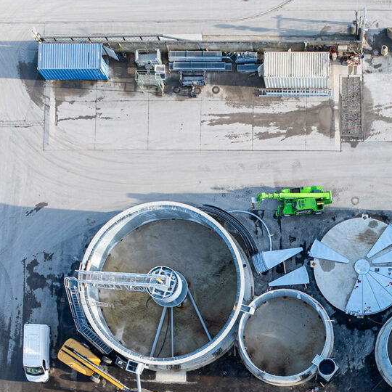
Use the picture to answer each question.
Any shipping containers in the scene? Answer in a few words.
Yes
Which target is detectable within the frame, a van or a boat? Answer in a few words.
van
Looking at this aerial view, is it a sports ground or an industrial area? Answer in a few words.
industrial area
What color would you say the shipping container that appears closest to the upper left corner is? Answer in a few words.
blue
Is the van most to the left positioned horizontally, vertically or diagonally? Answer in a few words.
vertically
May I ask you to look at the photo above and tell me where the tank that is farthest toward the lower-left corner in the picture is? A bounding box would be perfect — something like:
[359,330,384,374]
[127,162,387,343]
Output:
[59,200,252,392]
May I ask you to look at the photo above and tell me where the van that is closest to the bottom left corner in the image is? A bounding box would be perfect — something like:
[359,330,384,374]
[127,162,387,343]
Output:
[24,323,56,383]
